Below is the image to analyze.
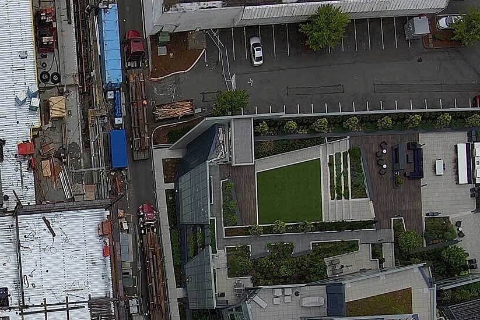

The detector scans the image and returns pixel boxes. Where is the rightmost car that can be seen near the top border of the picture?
[434,14,466,31]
